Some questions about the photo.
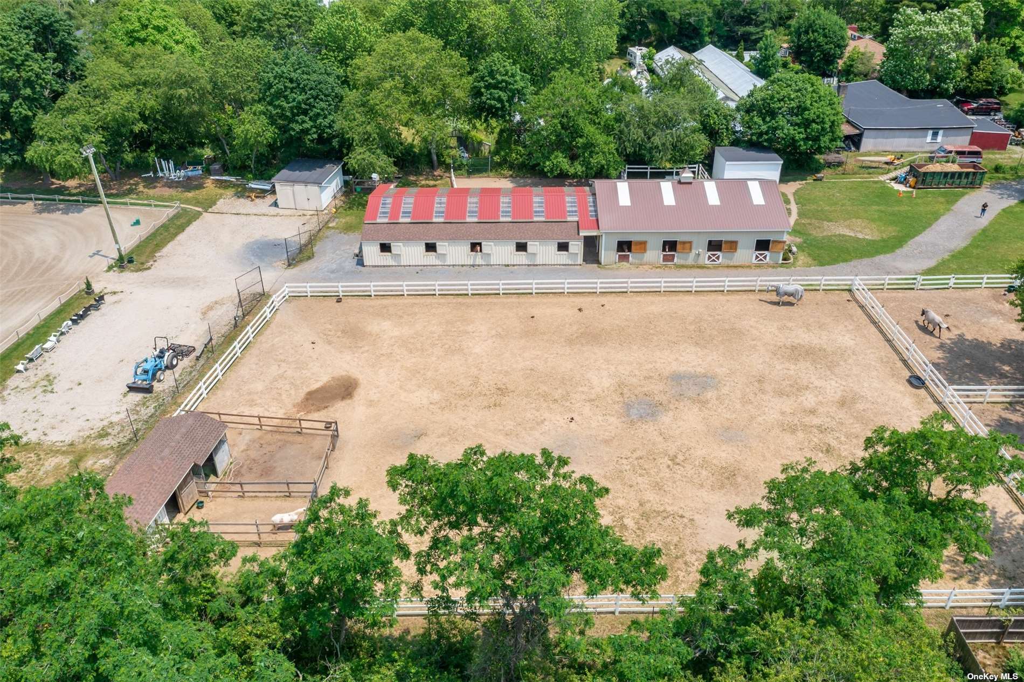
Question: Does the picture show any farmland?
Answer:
Yes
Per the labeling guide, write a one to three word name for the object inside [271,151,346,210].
shed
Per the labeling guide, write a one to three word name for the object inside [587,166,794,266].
building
